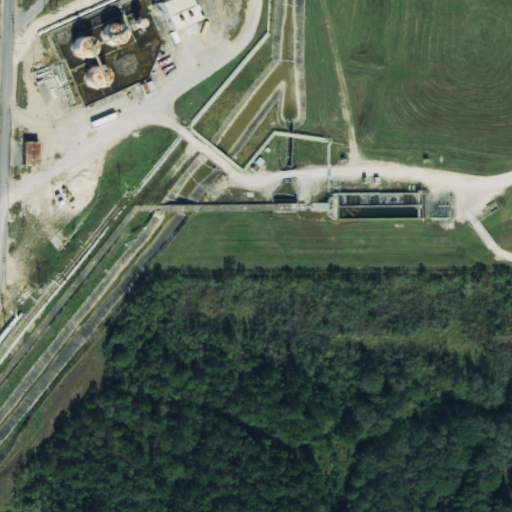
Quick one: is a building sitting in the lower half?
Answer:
No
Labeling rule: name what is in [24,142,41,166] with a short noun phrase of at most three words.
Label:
house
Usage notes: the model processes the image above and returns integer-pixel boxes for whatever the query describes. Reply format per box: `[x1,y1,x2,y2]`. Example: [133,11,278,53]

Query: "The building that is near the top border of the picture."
[158,0,206,32]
